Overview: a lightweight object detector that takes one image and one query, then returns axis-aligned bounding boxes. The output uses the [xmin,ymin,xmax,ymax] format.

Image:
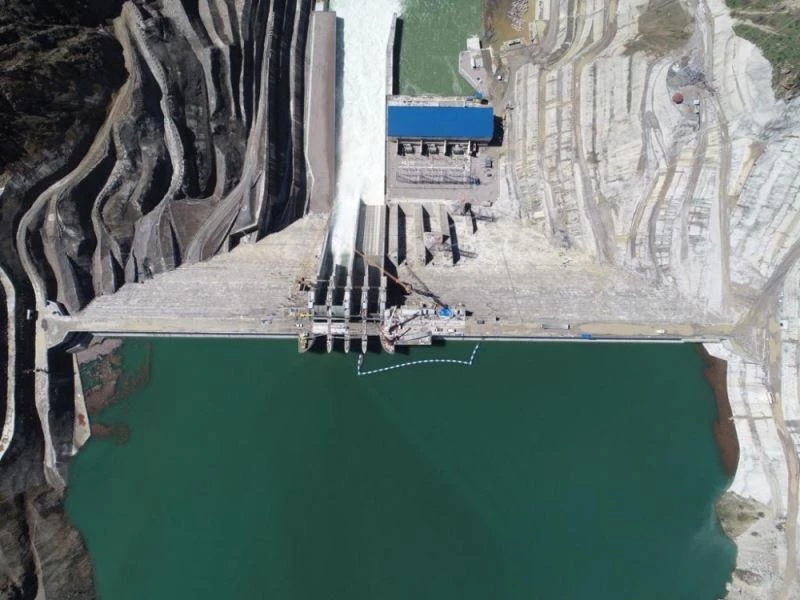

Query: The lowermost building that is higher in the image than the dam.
[388,97,494,157]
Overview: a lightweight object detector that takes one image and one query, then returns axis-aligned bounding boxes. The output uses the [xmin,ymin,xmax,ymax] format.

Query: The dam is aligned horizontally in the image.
[67,205,741,354]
